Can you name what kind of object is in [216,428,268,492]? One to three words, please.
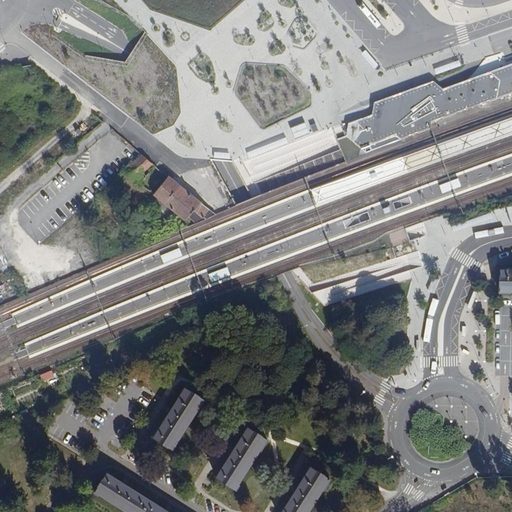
building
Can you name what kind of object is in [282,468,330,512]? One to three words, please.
building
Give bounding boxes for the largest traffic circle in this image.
[388,370,498,482]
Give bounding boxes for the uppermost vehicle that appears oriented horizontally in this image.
[473,228,504,240]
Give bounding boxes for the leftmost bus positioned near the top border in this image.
[360,2,383,29]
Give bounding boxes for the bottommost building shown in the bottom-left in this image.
[92,474,168,512]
